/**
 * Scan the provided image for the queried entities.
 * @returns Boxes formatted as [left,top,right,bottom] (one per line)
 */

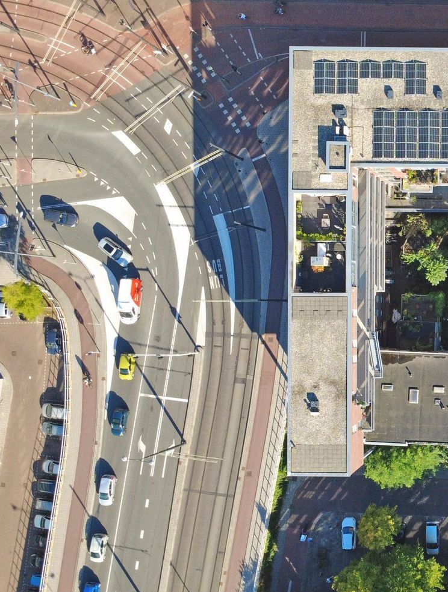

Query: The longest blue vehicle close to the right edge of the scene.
[424,519,441,555]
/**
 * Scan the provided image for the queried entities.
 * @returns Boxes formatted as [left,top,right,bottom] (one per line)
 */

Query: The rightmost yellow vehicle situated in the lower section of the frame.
[120,352,137,381]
